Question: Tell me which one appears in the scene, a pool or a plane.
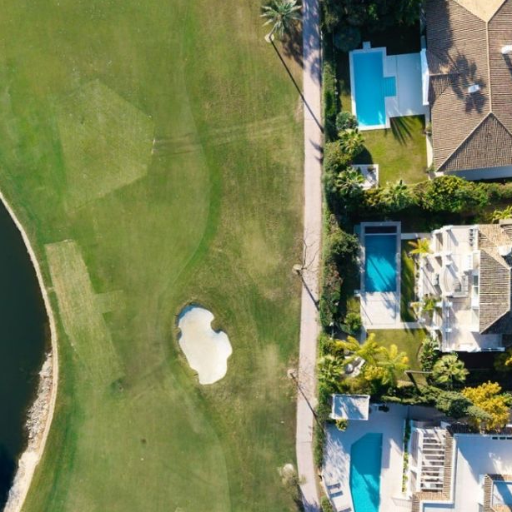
pool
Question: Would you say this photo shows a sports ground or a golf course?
golf course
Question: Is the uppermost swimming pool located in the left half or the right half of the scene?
right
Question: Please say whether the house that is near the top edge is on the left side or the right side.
right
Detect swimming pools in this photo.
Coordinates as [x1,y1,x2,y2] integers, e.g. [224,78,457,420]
[359,221,419,330]
[349,41,426,130]
[323,405,410,512]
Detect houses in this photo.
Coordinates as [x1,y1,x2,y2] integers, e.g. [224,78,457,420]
[404,422,512,512]
[415,219,512,352]
[410,0,512,171]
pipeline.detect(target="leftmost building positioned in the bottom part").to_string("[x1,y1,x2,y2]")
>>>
[327,395,370,420]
